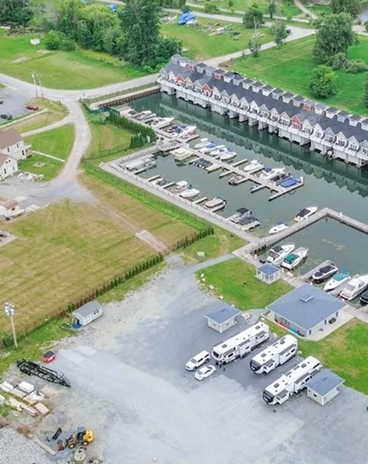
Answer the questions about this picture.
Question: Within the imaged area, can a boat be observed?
Yes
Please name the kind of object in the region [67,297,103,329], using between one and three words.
shed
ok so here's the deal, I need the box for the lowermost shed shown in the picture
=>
[301,366,348,405]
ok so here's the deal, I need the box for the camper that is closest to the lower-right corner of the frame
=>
[262,352,321,399]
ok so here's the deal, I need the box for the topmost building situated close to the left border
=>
[0,124,42,185]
